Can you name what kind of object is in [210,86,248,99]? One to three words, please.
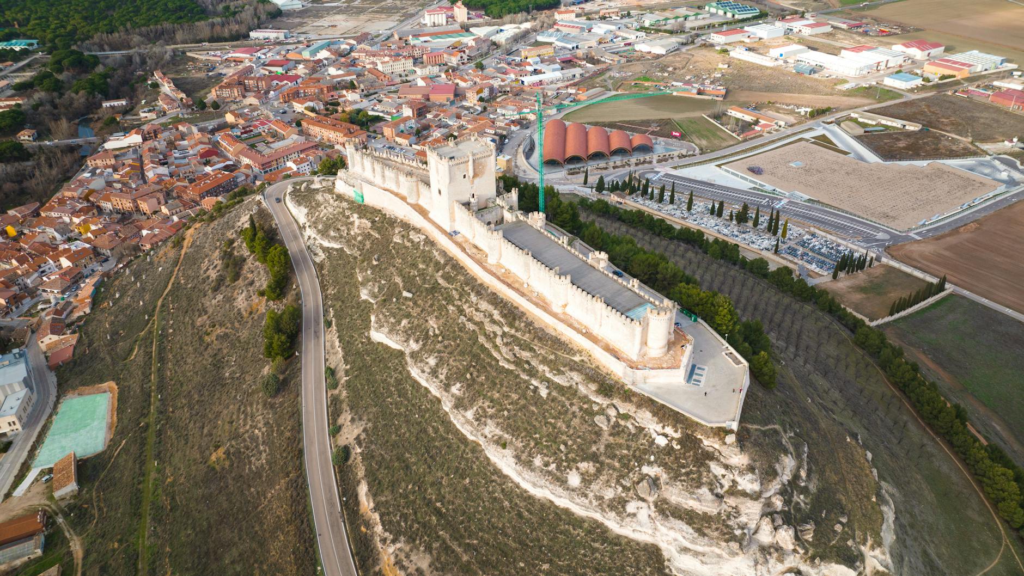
building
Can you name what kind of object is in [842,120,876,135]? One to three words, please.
shed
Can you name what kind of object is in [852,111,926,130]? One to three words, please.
shed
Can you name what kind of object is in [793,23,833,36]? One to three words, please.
building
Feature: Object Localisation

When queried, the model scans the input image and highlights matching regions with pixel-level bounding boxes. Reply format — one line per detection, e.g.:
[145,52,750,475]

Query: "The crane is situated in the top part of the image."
[509,86,676,202]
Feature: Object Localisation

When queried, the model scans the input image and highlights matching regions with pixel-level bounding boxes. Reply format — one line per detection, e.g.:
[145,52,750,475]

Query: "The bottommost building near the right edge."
[722,139,1003,235]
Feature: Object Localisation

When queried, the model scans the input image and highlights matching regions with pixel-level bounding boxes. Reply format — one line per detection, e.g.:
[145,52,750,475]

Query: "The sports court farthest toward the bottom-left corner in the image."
[32,393,110,468]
